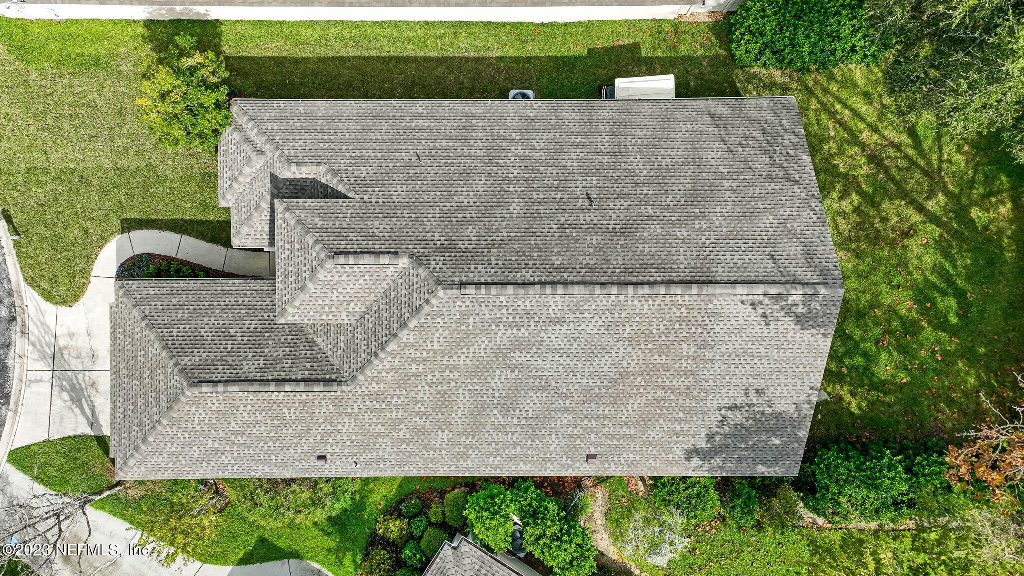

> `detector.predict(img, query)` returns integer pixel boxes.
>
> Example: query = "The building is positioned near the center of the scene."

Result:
[111,96,844,478]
